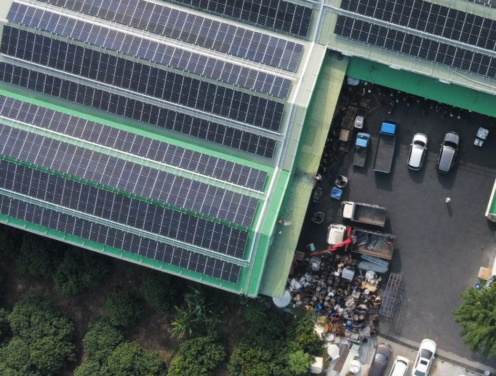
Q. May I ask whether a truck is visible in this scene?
Yes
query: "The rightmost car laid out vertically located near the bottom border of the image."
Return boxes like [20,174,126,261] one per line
[413,337,435,376]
